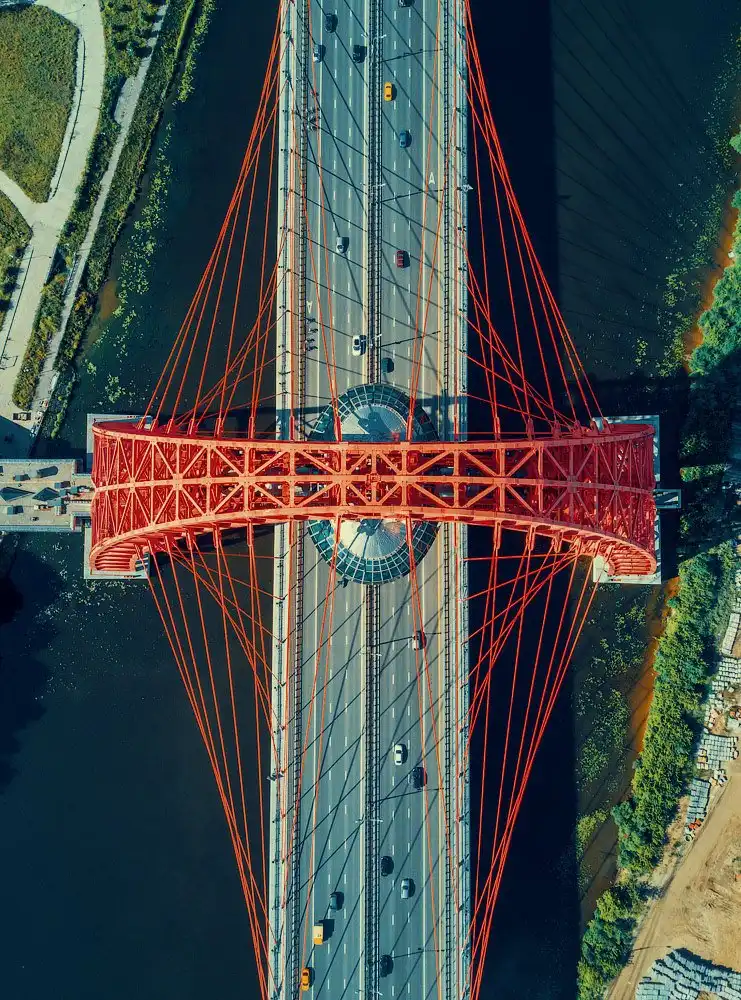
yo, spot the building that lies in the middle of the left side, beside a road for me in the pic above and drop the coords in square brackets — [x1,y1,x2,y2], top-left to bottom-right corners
[0,456,92,541]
